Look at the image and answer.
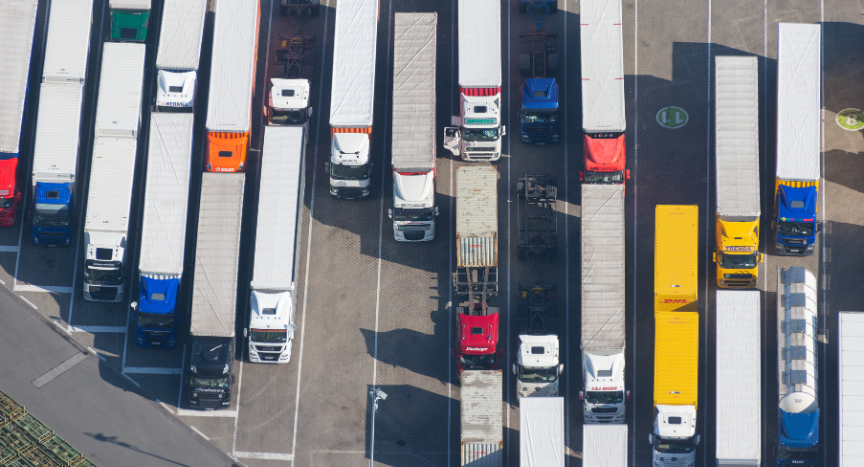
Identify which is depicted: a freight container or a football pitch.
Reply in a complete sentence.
Of the two, only a freight container appears.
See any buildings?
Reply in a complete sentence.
No, there isn't any building down there.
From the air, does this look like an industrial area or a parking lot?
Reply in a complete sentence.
What you see here is a parking lot.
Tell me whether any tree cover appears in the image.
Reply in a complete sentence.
No, no tree cover is visible.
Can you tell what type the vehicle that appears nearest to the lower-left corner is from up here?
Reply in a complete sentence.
I'd identify the vehicle that appears nearest to the lower-left corner as a truck.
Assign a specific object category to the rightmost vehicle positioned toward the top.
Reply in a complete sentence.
I'd identify the rightmost vehicle positioned toward the top as a truck.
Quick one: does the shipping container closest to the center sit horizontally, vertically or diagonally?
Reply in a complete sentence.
In this picture, the shipping container closest to the center lies vertically.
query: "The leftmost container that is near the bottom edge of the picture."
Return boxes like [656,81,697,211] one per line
[460,369,504,467]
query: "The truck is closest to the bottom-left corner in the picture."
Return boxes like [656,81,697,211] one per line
[77,232,130,301]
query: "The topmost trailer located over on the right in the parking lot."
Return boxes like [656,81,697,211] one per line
[518,0,559,34]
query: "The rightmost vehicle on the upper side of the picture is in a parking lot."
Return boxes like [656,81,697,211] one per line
[770,22,824,254]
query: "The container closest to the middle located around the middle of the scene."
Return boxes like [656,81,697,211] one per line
[456,166,499,269]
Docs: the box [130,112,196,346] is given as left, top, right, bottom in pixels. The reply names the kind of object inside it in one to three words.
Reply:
truck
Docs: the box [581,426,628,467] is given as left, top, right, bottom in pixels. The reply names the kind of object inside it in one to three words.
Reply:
truck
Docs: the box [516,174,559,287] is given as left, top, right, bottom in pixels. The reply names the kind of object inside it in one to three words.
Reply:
trailer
